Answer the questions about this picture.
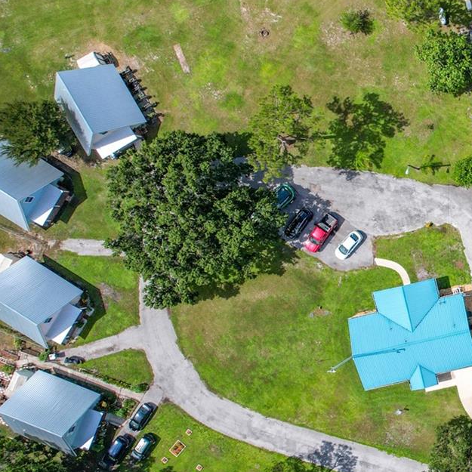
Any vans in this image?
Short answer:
Yes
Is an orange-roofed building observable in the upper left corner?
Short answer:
No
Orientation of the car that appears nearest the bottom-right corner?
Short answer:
diagonally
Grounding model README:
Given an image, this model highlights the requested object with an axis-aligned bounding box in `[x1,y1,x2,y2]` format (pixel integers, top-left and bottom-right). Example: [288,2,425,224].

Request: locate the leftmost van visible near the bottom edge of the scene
[104,433,133,468]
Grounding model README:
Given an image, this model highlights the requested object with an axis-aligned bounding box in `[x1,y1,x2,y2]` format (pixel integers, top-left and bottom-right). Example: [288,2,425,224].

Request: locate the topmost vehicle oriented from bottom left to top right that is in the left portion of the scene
[131,396,159,430]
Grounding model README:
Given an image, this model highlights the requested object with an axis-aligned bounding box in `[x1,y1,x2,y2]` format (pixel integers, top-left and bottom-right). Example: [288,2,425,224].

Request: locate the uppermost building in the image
[48,46,150,169]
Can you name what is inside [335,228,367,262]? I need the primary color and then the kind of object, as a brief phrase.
white car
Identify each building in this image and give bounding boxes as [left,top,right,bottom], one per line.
[348,278,472,391]
[0,130,81,232]
[0,360,119,460]
[0,244,99,350]
[48,46,150,169]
